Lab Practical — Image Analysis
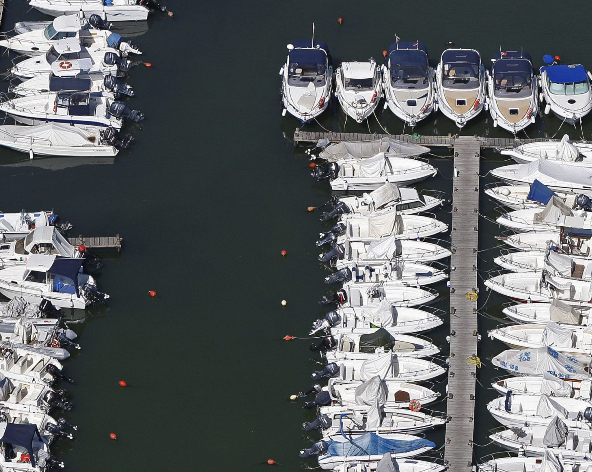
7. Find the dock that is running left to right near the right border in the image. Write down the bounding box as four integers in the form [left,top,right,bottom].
[480,137,592,156]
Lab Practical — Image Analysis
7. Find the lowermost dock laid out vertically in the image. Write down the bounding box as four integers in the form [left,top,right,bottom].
[442,136,481,472]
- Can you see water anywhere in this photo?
Yes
